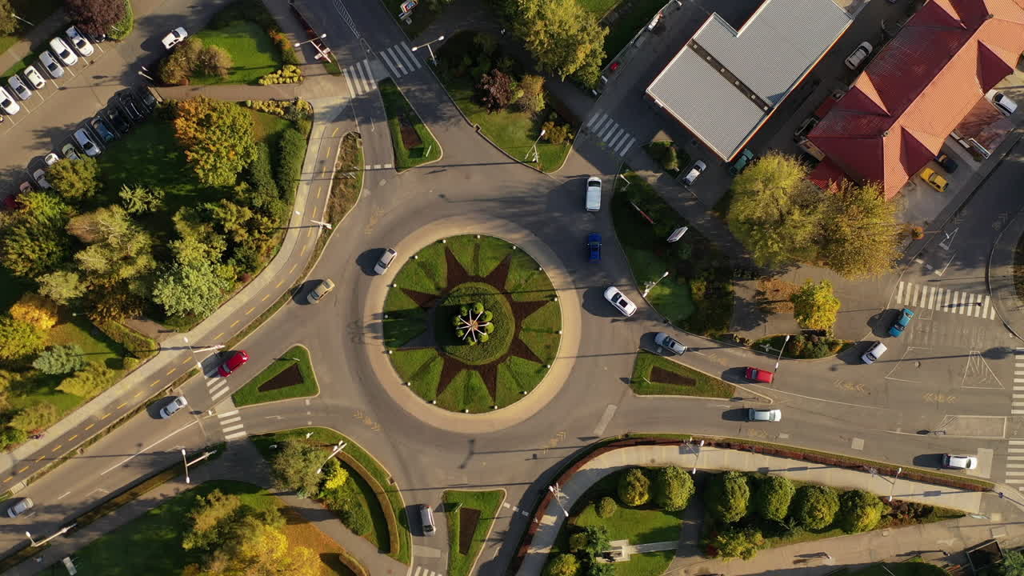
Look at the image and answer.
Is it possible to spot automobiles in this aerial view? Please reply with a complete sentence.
Yes, an automobile is visible in the scene.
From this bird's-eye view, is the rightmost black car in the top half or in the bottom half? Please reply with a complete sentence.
Seen from above, the rightmost black car lies in the top half of the view.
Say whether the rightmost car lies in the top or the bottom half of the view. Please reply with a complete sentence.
It is in the top half that the rightmost car appears.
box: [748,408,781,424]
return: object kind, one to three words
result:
car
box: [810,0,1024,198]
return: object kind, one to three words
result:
house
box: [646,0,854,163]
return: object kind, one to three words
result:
building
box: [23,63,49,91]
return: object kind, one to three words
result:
car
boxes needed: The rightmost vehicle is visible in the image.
[983,88,1019,117]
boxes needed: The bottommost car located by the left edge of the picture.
[6,495,36,518]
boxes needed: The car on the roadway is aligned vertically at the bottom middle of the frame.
[420,504,436,537]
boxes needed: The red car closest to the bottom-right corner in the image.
[744,365,775,383]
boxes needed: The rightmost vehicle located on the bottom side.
[941,453,976,471]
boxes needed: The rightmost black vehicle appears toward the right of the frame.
[931,151,961,176]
